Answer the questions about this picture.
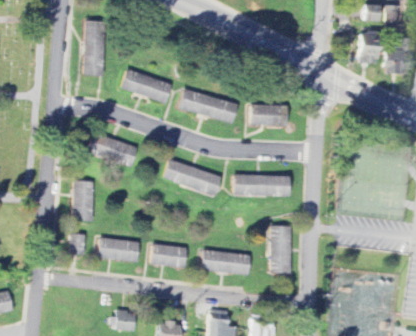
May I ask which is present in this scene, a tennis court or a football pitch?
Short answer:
tennis court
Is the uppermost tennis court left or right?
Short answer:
right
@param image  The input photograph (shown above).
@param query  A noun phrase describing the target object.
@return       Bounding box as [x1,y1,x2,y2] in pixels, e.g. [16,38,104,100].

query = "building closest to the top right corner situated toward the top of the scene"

[383,4,400,24]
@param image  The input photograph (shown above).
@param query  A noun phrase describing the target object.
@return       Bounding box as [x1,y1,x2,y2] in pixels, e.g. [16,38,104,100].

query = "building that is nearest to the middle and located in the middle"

[164,160,222,196]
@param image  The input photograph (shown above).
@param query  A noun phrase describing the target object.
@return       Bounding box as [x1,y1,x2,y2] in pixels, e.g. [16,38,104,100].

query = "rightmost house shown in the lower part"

[268,224,293,274]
